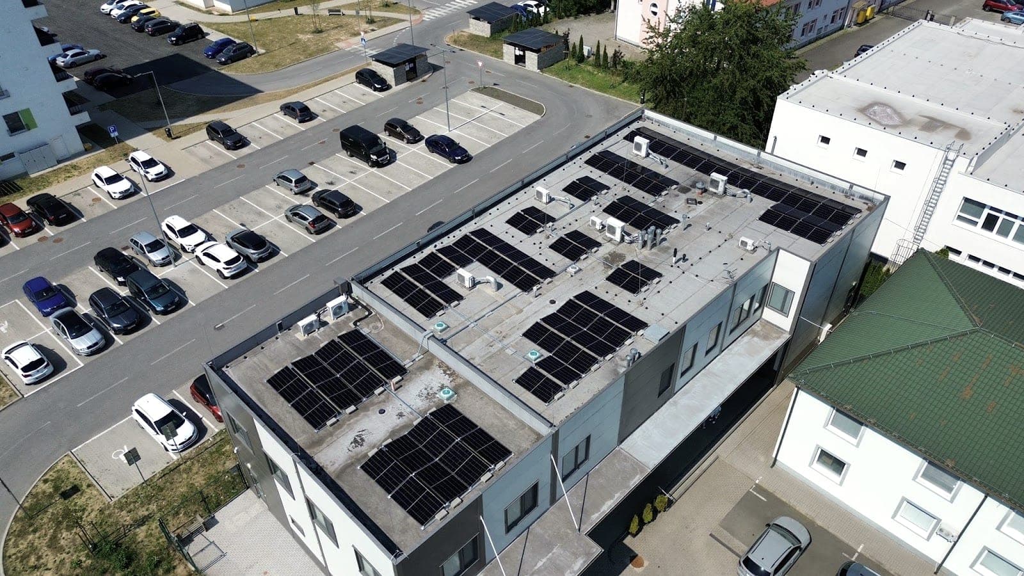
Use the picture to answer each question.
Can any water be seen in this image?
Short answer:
No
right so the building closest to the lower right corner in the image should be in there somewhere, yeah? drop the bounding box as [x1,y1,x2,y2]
[772,246,1024,576]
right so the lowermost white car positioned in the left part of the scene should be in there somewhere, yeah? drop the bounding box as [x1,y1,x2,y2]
[129,389,201,454]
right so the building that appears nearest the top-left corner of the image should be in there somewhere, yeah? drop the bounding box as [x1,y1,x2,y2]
[0,0,108,185]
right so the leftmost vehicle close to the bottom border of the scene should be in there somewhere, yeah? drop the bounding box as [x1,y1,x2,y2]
[728,508,814,576]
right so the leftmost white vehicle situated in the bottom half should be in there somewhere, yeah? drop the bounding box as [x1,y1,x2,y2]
[0,338,58,389]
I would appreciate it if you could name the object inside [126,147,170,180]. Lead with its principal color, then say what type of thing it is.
white car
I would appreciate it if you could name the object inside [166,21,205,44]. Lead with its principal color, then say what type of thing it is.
black car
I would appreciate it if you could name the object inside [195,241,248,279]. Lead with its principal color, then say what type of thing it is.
white car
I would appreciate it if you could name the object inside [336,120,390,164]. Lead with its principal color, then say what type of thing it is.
black van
